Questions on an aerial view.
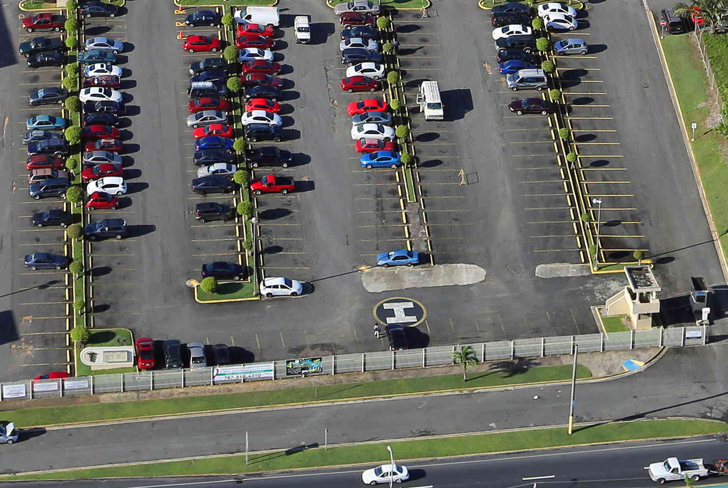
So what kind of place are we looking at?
parking lot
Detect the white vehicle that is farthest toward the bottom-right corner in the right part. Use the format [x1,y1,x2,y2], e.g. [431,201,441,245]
[647,459,708,485]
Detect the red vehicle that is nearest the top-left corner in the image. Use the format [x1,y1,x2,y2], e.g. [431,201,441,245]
[22,13,65,32]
